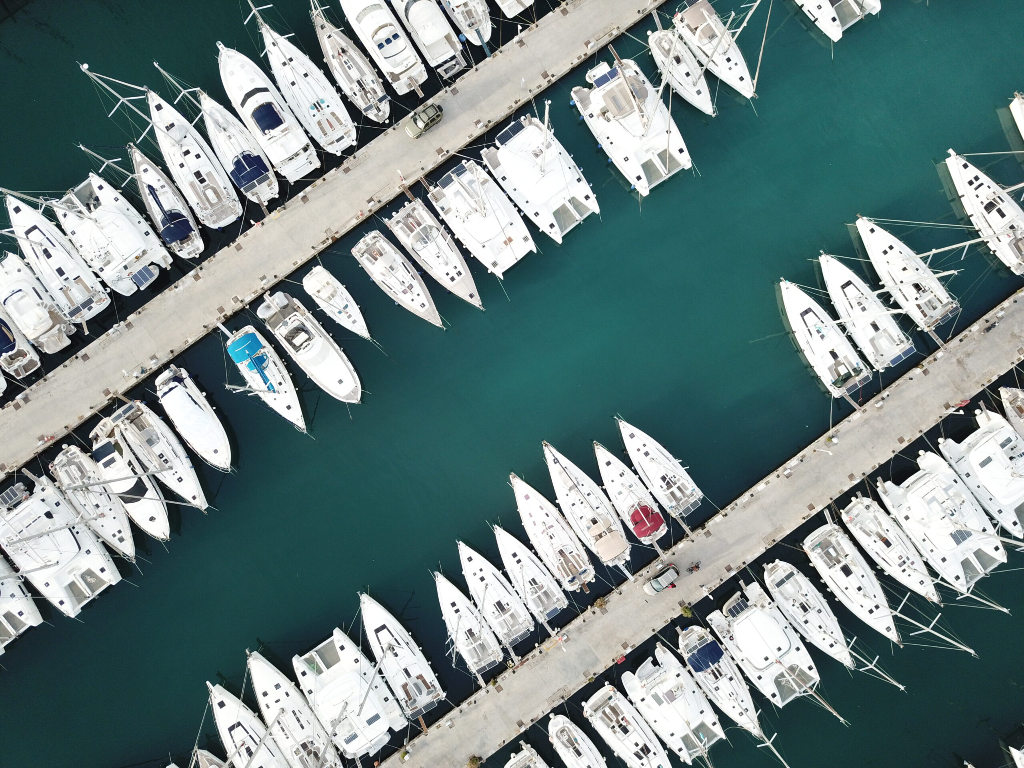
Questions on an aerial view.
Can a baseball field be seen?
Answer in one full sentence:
No, there's no baseball field here.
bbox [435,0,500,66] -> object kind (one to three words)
boat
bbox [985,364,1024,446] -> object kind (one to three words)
boat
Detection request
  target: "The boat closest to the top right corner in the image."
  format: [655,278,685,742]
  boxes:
[993,90,1024,140]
